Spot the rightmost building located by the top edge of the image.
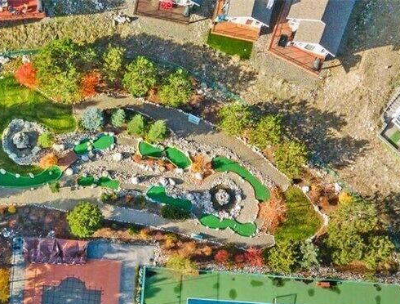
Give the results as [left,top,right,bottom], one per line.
[265,0,352,79]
